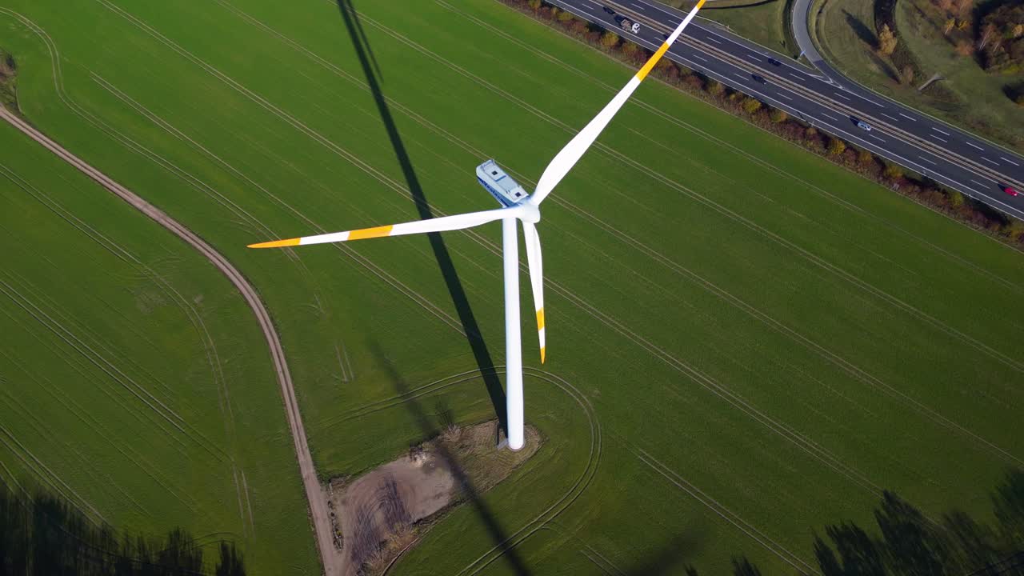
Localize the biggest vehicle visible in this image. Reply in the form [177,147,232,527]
[622,20,642,35]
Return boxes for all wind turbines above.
[251,0,708,449]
